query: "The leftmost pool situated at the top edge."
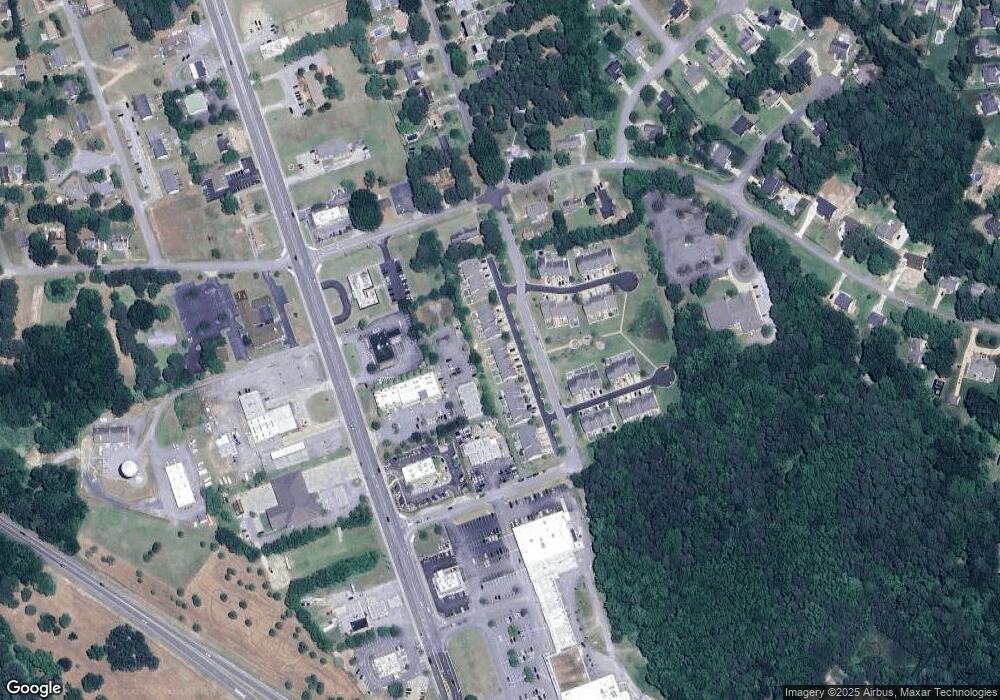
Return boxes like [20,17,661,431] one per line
[369,24,389,38]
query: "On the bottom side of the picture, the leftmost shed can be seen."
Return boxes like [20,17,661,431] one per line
[93,427,129,442]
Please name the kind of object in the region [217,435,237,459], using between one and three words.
shed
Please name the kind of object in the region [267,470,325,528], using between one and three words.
building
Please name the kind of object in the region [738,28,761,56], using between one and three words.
house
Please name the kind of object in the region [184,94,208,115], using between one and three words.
barn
